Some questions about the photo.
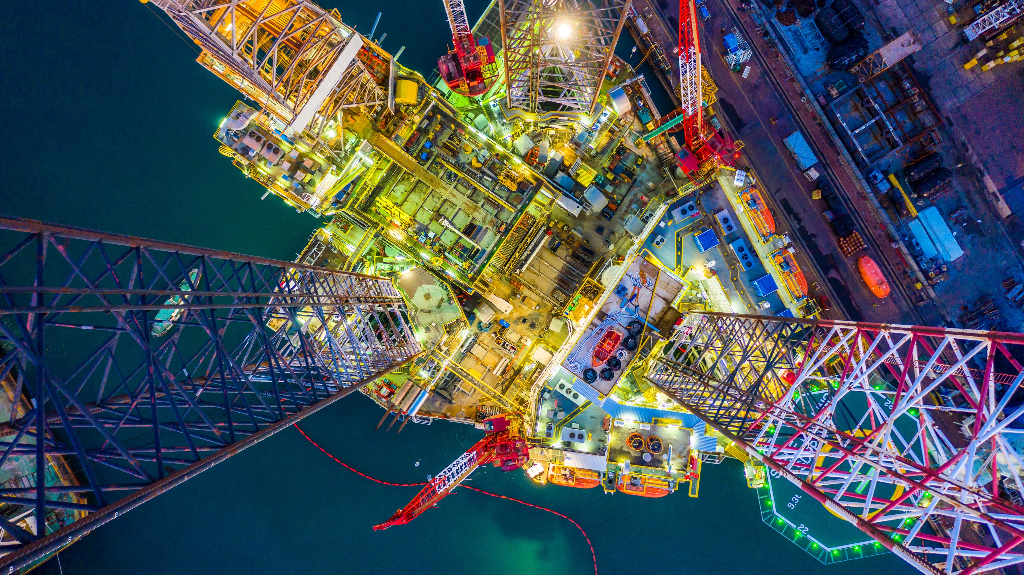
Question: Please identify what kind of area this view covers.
port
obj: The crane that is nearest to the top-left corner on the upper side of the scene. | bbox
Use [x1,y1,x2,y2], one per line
[437,0,500,100]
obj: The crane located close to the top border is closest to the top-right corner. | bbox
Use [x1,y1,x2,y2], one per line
[661,0,745,192]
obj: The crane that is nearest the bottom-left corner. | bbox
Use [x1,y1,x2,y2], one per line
[369,411,529,534]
